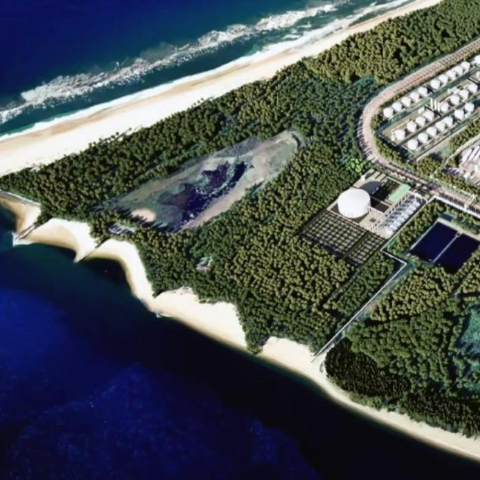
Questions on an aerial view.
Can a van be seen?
No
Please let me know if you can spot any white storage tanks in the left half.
No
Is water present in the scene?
Yes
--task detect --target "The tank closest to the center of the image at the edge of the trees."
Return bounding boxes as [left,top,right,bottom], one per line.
[337,188,371,219]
